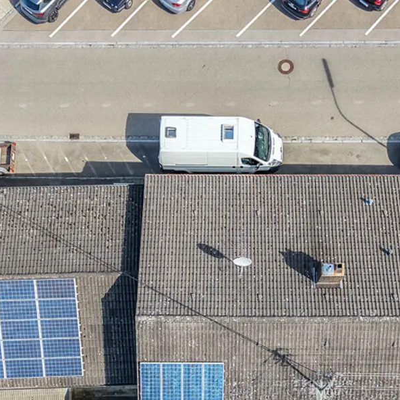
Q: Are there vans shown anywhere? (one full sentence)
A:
Yes, there is a van in the image.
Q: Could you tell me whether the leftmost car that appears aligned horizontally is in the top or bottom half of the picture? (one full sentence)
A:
The leftmost car that appears aligned horizontally sits in the top half of the picture.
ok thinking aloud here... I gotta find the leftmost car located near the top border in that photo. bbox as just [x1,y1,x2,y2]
[19,0,70,23]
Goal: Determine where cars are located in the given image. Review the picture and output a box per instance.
[282,0,328,21]
[19,0,70,23]
[101,0,135,13]
[159,0,197,15]
[361,0,394,13]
